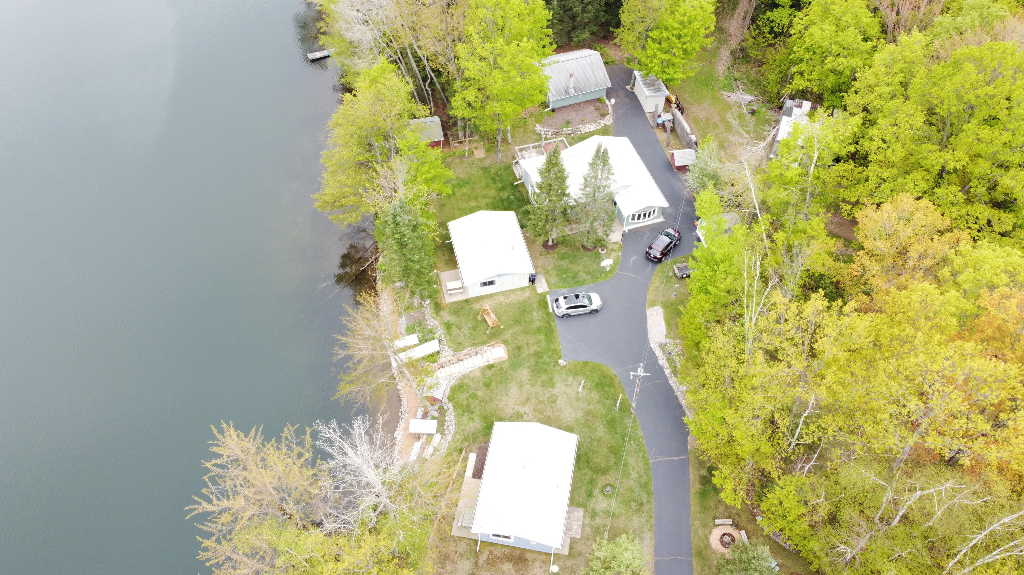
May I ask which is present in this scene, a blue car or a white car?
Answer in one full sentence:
Visible in the photo is a white car.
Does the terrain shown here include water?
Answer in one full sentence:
Yes, water can be seen from above here.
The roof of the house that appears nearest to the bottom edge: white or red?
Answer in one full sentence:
The roof of the house that appears nearest to the bottom edge looks white in the image.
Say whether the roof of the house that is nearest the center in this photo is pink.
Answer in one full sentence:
No, from above the roof of the house that is nearest the center looks white.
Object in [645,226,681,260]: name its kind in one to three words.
car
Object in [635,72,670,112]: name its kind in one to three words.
shed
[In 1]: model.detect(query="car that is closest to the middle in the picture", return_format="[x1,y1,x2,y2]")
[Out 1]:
[552,290,602,316]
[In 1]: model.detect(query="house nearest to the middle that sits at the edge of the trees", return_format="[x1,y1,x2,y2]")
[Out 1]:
[445,210,536,298]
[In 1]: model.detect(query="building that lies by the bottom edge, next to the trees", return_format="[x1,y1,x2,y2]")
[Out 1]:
[468,422,580,575]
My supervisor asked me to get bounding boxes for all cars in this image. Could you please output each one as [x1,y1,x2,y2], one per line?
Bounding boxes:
[645,226,681,260]
[552,290,602,316]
